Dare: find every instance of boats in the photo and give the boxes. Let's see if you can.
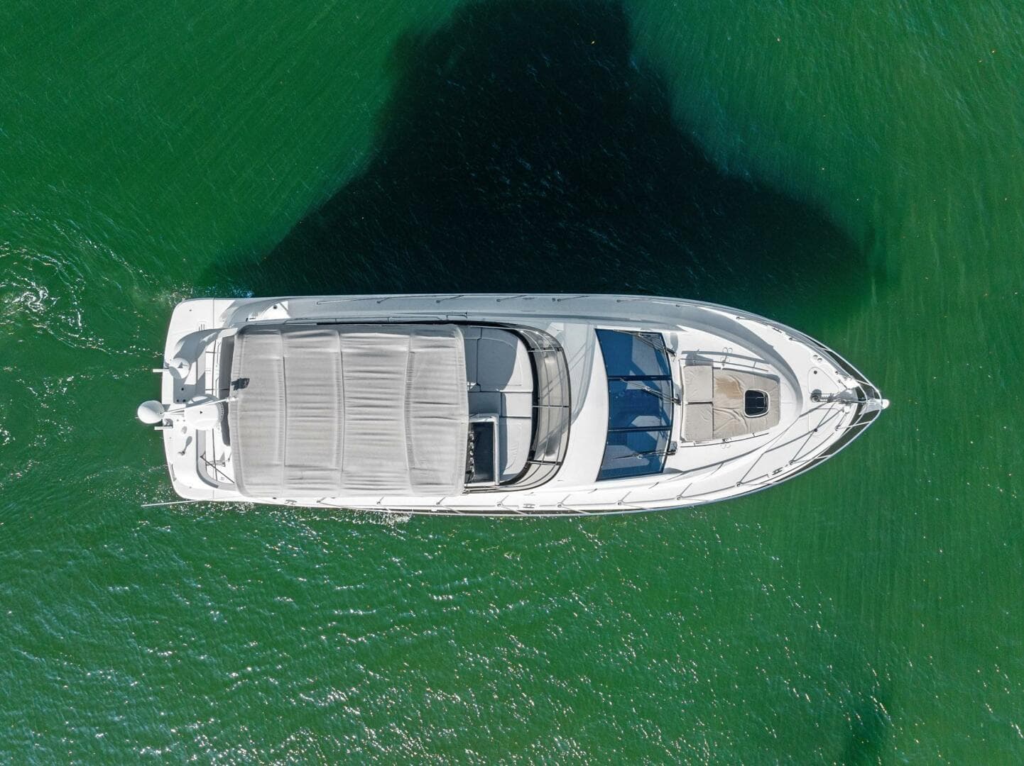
[133,293,893,517]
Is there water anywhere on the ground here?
Yes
